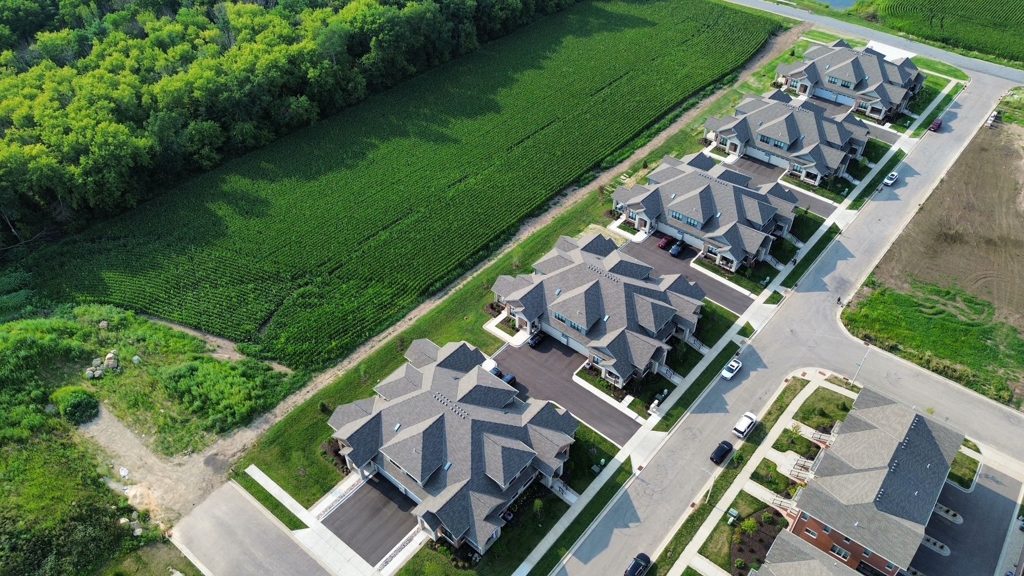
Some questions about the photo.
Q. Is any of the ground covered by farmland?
Yes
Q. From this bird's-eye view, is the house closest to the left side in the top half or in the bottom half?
bottom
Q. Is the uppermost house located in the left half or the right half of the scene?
right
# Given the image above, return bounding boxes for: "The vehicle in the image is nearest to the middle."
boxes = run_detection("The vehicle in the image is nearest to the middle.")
[526,330,550,351]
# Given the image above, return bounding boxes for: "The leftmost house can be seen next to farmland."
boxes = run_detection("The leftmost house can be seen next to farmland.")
[323,343,576,559]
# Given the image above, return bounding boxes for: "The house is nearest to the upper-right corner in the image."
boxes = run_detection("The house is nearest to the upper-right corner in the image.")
[775,38,926,121]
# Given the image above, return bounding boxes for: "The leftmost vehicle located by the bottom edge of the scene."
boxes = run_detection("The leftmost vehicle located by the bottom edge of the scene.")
[623,545,652,576]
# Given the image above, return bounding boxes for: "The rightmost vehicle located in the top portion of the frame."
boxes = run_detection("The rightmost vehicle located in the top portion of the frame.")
[933,115,947,129]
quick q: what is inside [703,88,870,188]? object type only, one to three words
house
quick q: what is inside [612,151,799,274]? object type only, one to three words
house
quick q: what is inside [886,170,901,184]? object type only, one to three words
car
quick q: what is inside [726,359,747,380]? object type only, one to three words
car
